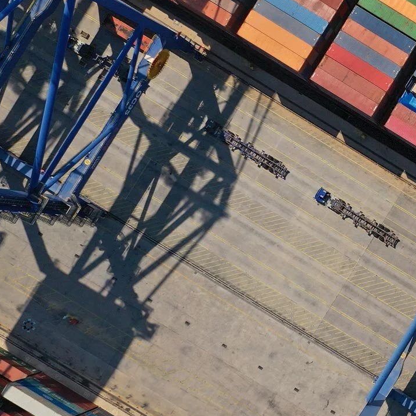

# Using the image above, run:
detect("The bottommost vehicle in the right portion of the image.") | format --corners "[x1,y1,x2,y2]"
[311,185,399,249]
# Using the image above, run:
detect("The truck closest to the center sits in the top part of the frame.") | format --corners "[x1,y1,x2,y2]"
[199,116,288,180]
